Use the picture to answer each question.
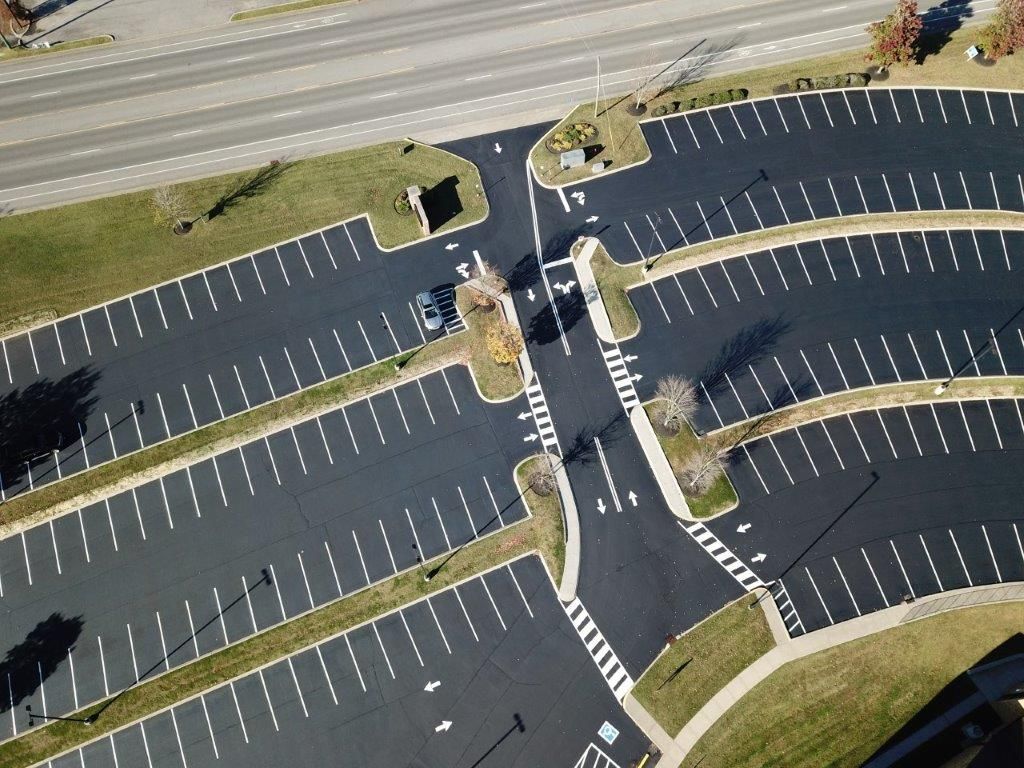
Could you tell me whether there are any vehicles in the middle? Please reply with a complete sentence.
Yes, a vehicle shows up in the middle.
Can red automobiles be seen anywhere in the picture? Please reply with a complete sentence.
No, I can see no red automobile in this picture.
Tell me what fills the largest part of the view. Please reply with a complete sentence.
Most of the picture is covered by paved ground.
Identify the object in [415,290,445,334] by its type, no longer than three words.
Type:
car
